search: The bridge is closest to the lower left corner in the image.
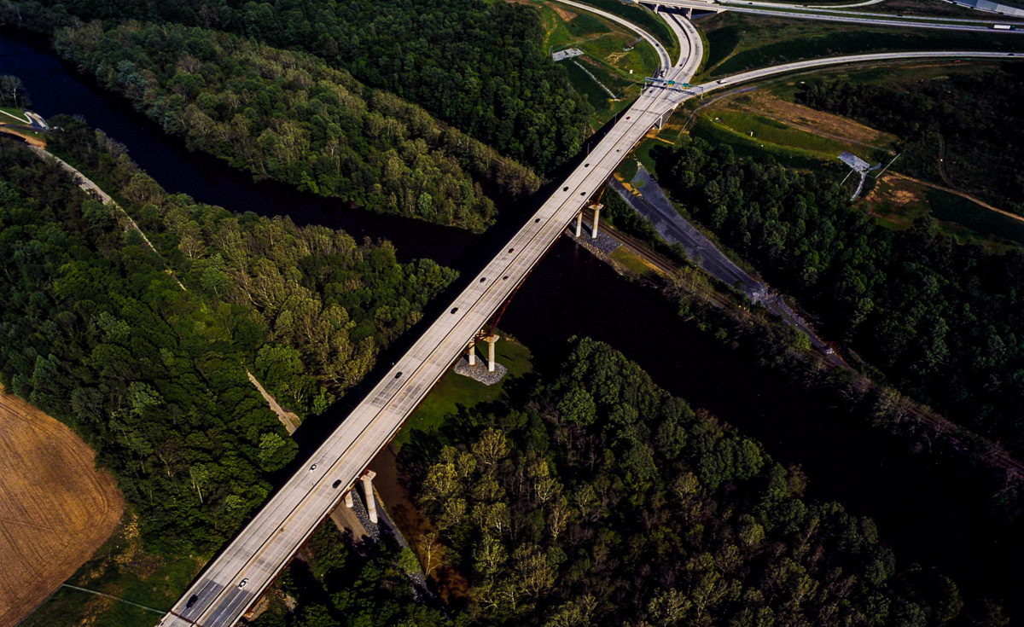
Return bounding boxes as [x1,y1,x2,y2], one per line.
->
[152,98,683,627]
